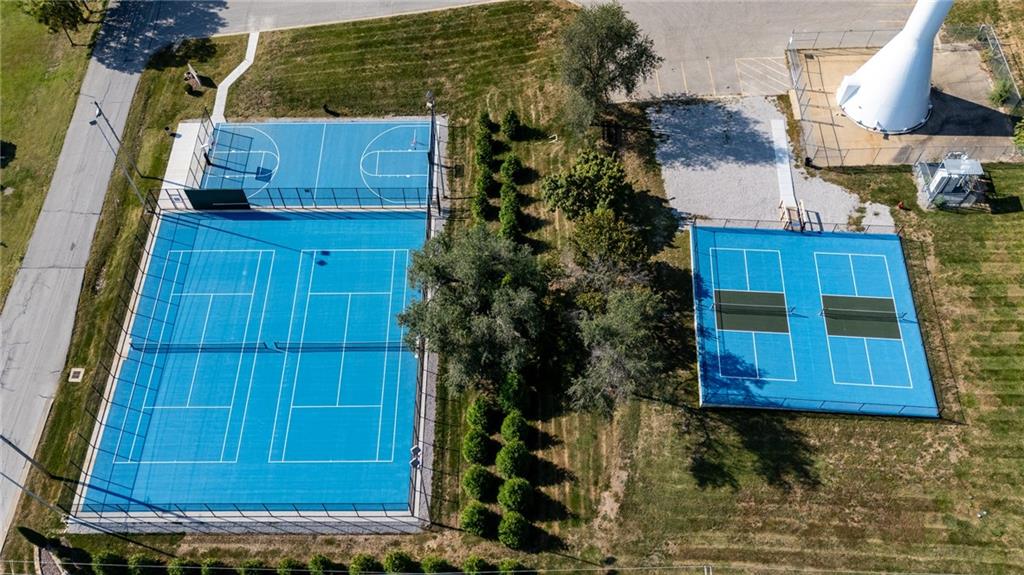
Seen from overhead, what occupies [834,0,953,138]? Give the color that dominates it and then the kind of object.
white water tower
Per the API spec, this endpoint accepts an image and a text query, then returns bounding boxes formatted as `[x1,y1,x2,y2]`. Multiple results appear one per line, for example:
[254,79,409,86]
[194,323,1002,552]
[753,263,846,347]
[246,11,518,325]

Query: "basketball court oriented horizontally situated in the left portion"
[163,122,430,211]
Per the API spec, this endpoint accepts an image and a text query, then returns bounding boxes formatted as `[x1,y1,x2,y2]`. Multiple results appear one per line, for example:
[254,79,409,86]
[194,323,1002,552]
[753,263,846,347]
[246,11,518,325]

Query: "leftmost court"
[85,209,294,512]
